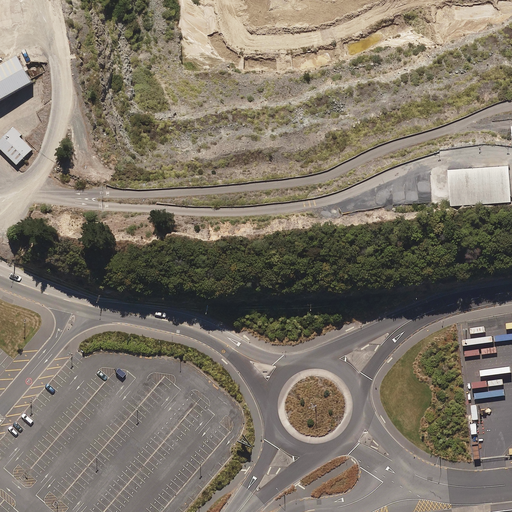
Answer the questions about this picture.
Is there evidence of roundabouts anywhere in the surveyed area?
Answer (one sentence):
Yes, a roundabout can be made out from above.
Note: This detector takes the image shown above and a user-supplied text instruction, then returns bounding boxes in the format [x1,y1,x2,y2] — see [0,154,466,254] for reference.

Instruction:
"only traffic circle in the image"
[260,350,372,462]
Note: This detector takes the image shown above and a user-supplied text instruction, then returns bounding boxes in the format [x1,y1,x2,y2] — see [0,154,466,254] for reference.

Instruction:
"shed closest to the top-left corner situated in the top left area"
[0,54,32,98]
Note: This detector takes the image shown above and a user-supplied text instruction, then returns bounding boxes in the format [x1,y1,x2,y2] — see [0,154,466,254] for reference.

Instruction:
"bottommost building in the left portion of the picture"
[0,126,34,165]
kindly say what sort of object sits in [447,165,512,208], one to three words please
building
